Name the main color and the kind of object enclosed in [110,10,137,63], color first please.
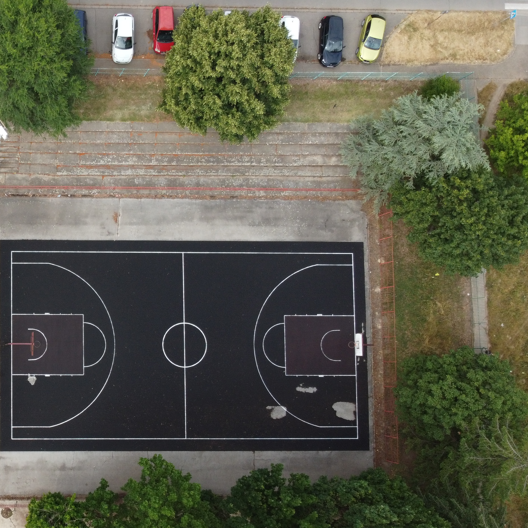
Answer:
white car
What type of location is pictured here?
sports ground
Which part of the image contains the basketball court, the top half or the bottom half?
bottom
